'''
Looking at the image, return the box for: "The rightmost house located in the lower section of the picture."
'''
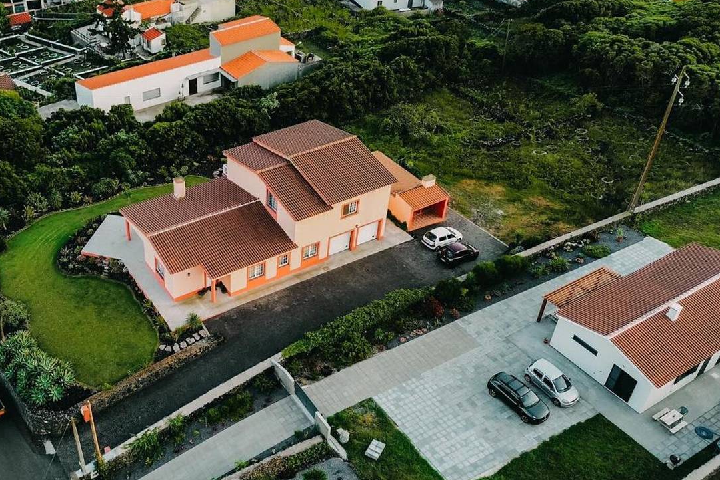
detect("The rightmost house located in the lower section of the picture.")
[548,242,720,409]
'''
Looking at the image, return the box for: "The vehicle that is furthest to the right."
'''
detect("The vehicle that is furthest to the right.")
[521,359,587,406]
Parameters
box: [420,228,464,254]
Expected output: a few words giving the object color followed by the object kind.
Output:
white car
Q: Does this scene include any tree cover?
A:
Yes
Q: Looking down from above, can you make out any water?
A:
No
